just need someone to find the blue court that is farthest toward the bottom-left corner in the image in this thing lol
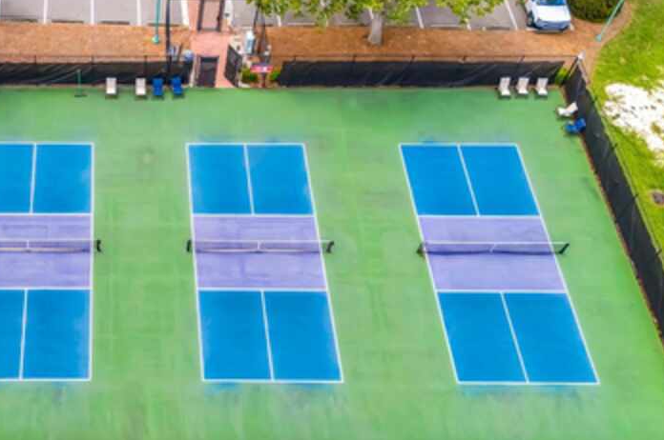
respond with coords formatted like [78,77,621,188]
[0,141,94,382]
